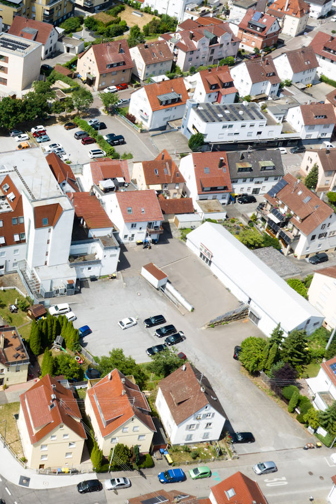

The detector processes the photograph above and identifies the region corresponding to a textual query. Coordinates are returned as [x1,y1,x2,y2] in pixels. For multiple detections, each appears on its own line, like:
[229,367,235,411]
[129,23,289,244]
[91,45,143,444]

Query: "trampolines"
[83,361,103,380]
